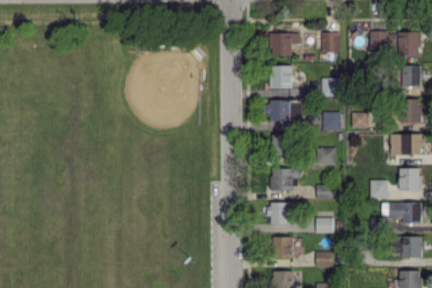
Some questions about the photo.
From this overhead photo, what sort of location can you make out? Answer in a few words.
sports ground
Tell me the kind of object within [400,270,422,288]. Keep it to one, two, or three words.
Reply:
house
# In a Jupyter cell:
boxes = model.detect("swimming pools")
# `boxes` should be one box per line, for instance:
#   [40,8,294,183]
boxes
[353,35,366,48]
[318,236,330,250]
